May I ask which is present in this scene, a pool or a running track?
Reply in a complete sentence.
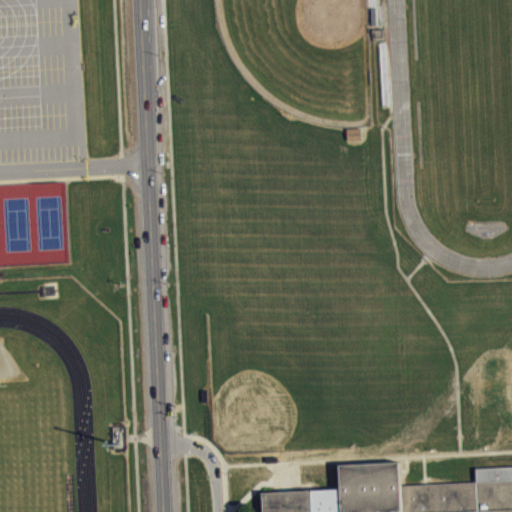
The image shows a running track.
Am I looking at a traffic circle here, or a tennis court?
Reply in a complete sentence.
Visible in the photo is a tennis court.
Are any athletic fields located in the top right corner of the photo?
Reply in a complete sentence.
Yes, an athletic field shows up in the top right corner of the photo.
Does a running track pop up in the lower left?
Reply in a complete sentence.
Yes, I can see a running track in the lower left.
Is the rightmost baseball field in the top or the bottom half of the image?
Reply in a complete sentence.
The rightmost baseball field is in the bottom half of the image.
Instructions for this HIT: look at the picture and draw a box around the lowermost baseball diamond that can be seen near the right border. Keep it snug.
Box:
[462,348,512,460]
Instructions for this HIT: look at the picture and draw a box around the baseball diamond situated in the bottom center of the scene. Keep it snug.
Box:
[212,368,298,454]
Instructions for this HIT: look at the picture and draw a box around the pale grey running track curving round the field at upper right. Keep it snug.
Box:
[388,0,512,278]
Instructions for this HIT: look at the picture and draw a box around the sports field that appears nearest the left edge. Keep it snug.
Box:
[0,330,78,512]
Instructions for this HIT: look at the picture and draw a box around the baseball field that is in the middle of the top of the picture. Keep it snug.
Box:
[214,0,369,128]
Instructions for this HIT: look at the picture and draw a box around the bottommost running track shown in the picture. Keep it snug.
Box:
[0,308,97,512]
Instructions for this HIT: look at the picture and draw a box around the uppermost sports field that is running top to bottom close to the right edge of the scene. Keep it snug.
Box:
[405,0,512,258]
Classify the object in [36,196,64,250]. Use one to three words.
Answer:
tennis court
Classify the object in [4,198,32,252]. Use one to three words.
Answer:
tennis court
